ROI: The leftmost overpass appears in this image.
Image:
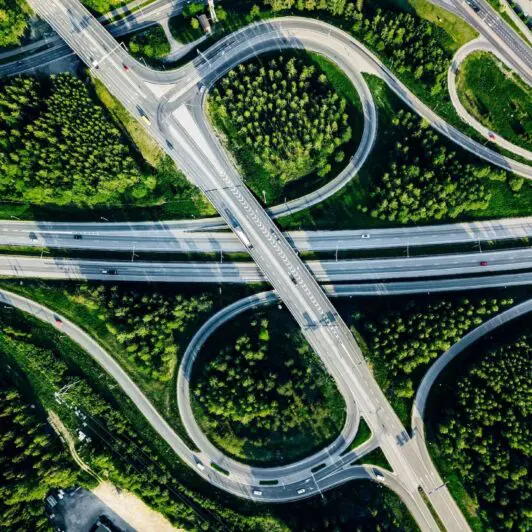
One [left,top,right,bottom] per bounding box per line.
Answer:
[39,0,120,63]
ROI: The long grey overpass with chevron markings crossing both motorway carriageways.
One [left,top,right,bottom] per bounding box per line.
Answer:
[205,176,338,328]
